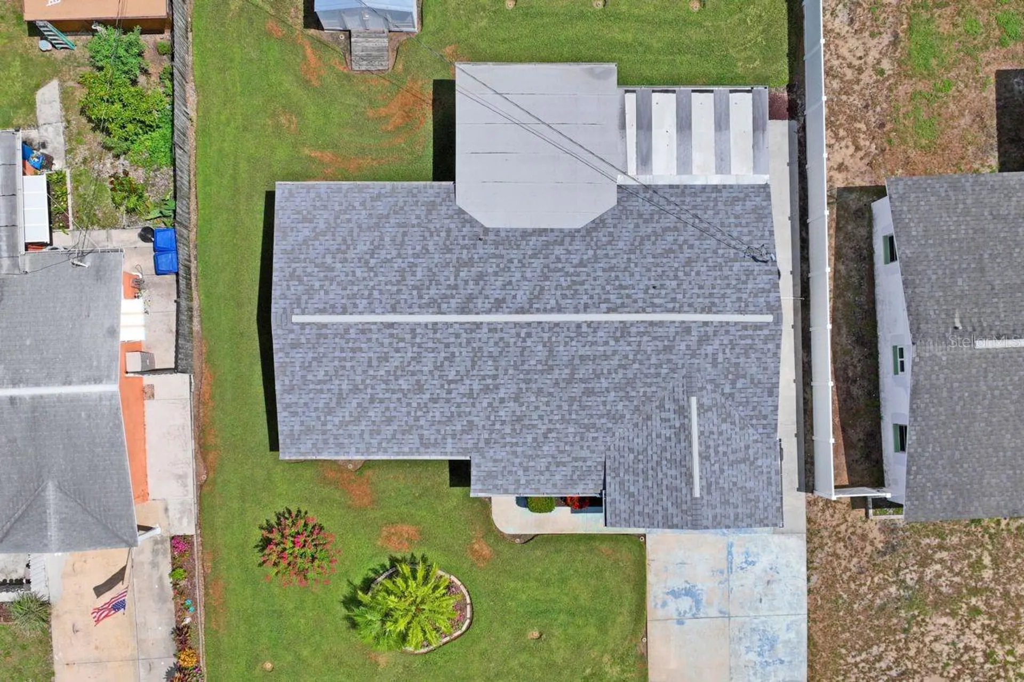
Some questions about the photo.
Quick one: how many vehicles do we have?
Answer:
0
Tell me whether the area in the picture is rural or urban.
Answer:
urban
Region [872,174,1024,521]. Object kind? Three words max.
house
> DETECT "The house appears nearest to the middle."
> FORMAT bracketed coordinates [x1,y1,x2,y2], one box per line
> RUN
[271,60,803,530]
